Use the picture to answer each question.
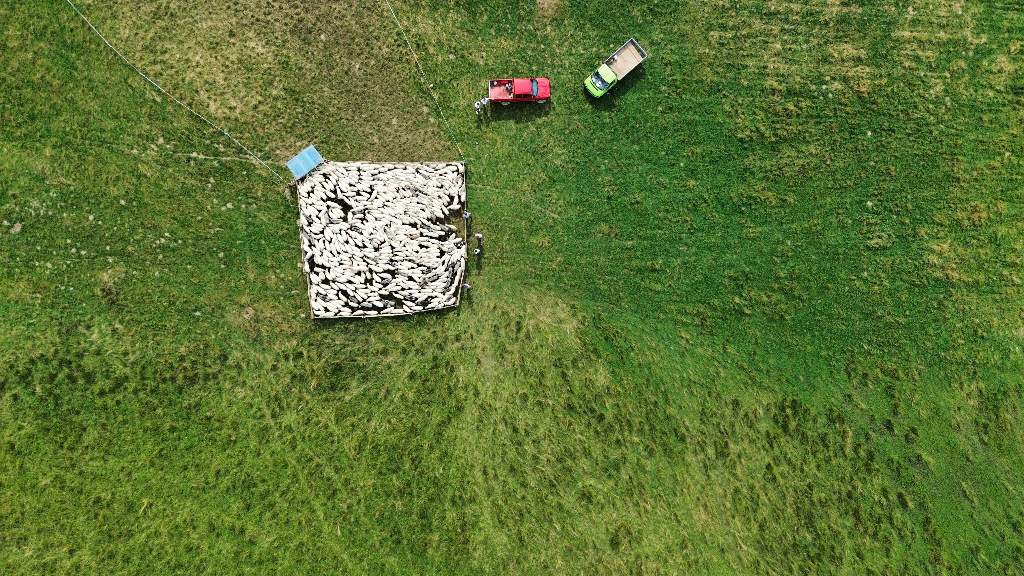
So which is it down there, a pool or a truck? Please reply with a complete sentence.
I can see a truck in this picture.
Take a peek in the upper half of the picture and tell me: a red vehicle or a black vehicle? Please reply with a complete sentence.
The feature located in the upper half of the picture is a red vehicle.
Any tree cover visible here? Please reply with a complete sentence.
No, no tree cover is visible.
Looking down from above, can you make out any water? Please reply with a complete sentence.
No, there's no water in this view.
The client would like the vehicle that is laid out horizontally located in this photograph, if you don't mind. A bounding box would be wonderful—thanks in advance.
[487,78,551,106]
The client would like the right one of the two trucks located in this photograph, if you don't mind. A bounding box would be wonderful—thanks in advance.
[583,38,648,101]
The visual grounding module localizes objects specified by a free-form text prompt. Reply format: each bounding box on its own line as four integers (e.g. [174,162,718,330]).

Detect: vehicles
[487,78,551,106]
[583,38,648,101]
